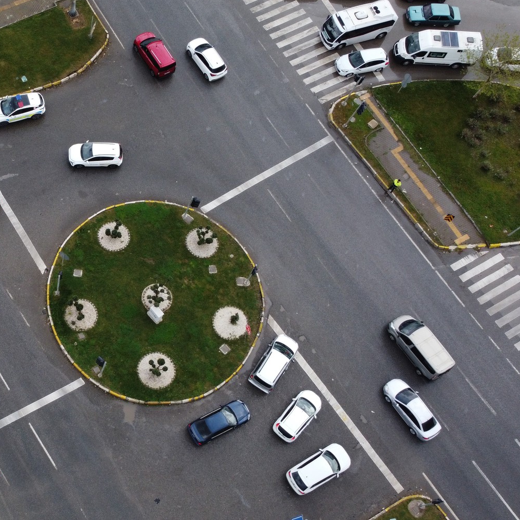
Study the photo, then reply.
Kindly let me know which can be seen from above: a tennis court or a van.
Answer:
van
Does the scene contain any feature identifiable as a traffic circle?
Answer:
Yes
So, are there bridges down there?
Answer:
No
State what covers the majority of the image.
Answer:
paved ground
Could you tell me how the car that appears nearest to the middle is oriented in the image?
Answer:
at an angle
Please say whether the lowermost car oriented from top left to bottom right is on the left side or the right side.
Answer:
right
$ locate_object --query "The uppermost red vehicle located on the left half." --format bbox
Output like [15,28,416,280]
[135,32,176,79]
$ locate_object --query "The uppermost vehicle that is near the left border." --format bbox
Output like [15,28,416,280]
[0,90,46,127]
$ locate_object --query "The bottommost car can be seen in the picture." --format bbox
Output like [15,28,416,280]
[285,445,353,495]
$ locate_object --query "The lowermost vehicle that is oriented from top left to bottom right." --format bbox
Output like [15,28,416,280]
[382,380,443,442]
